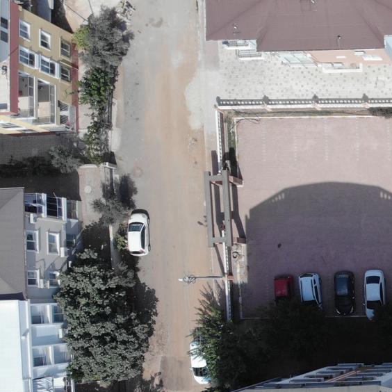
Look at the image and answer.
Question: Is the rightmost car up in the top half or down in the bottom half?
bottom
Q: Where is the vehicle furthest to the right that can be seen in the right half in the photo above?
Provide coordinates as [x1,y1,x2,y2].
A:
[359,267,383,319]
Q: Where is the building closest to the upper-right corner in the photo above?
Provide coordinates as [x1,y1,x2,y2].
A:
[205,0,392,76]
